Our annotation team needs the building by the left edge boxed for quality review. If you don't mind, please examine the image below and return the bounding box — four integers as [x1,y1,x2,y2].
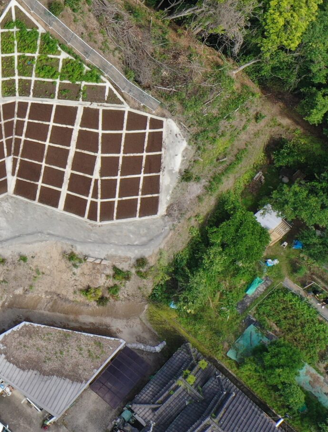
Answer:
[0,321,127,419]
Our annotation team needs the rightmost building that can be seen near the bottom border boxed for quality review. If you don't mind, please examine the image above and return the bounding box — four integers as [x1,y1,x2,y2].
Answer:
[122,345,268,432]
